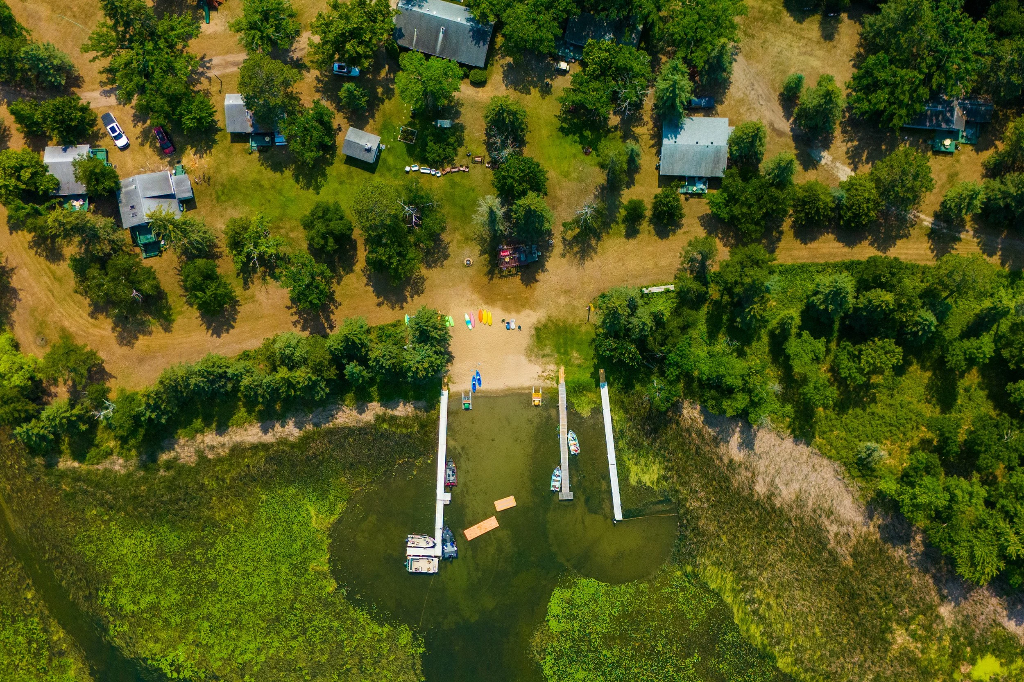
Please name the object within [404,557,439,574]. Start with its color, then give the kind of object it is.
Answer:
white boat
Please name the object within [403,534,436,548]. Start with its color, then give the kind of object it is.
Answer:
white boat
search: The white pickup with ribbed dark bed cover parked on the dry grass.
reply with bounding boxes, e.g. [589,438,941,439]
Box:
[103,110,132,150]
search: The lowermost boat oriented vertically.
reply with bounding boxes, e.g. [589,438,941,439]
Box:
[443,525,458,562]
